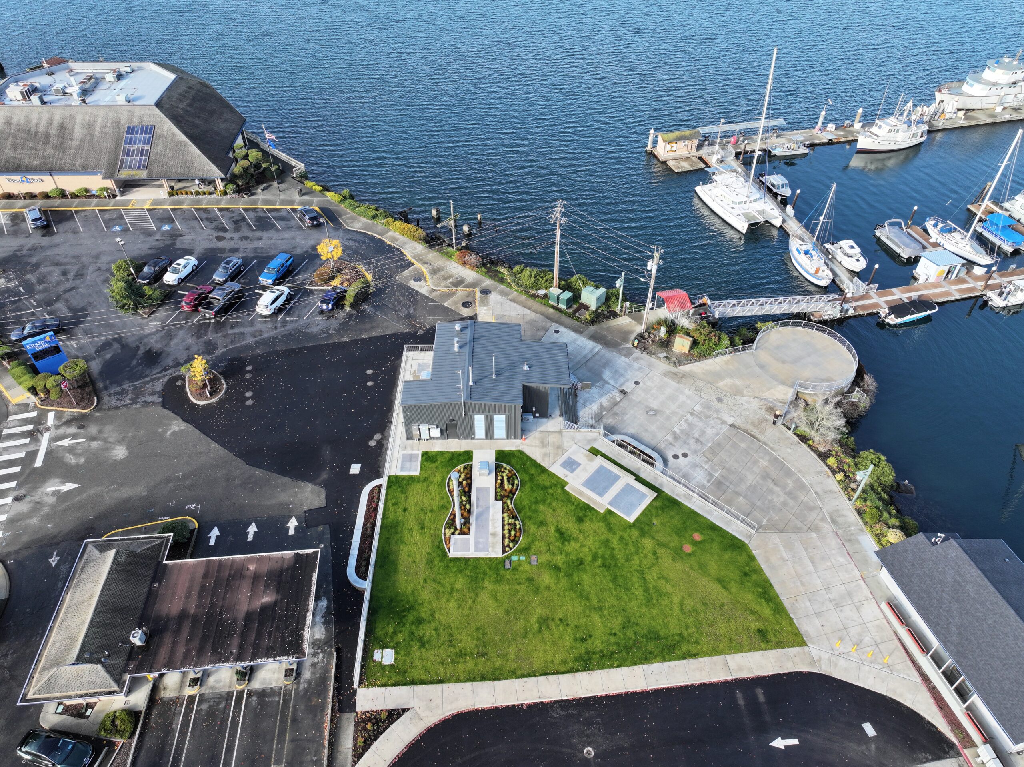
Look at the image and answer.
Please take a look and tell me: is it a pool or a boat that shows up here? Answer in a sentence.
It is a boat that can be seen here.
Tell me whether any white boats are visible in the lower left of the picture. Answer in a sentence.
No, no white boat can be made out in the lower left of the picture.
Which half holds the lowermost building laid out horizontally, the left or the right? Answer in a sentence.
It is on the left.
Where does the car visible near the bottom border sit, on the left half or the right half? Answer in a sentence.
The car visible near the bottom border appears in the left half of the scene.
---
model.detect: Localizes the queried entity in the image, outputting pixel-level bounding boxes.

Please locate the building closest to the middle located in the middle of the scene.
[401,319,571,442]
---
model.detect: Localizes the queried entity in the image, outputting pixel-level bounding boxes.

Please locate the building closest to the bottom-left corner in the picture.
[17,533,321,707]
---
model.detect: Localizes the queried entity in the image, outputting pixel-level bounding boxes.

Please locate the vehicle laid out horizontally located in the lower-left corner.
[1,728,97,767]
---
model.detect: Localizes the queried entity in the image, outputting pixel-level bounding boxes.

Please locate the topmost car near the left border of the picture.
[21,203,46,227]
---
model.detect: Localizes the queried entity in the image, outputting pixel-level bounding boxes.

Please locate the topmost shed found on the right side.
[655,123,701,156]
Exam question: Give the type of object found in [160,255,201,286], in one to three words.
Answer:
car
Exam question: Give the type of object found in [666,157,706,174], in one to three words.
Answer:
pier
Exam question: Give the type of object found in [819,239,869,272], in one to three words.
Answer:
boat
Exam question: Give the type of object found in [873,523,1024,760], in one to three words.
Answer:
building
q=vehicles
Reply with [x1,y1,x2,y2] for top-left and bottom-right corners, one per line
[136,255,176,284]
[178,281,216,312]
[21,203,46,227]
[316,282,348,312]
[255,248,299,287]
[209,251,249,284]
[194,279,247,318]
[252,282,296,316]
[294,203,321,227]
[160,255,201,286]
[1,728,97,767]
